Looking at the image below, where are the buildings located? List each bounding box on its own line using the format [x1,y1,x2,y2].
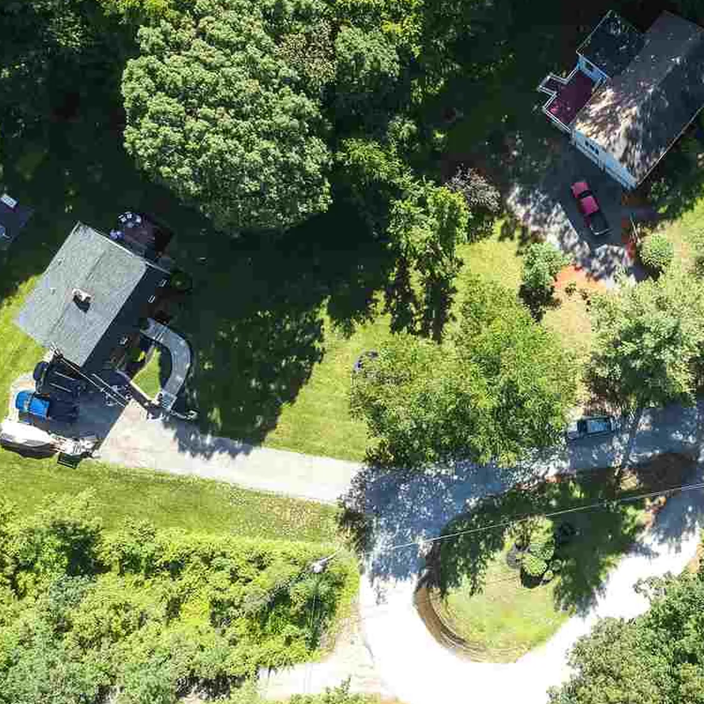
[13,221,169,368]
[539,8,704,189]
